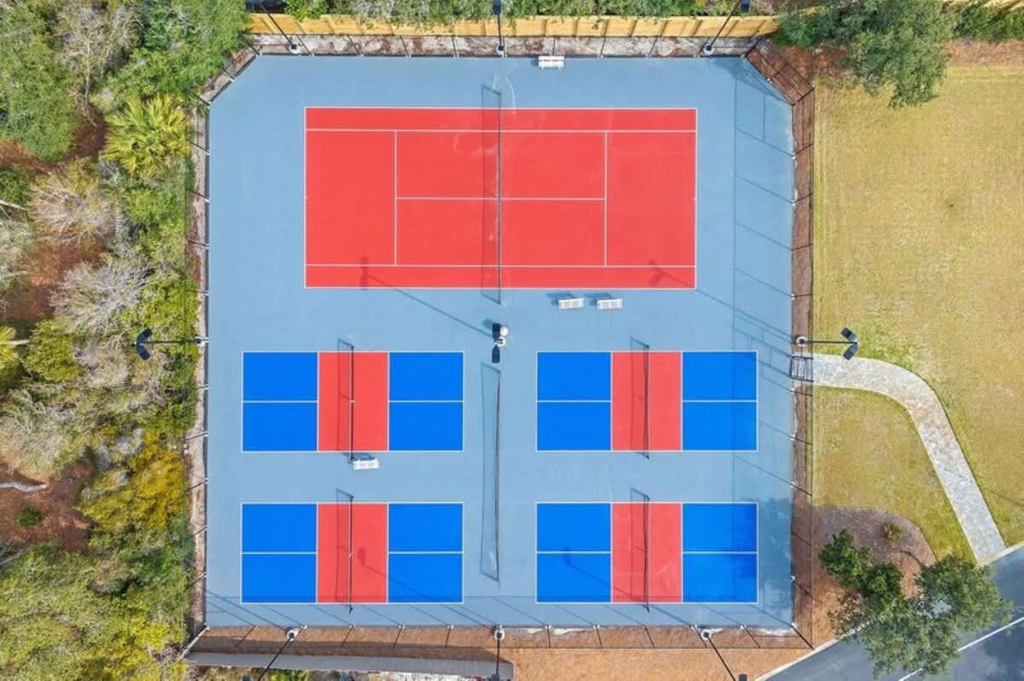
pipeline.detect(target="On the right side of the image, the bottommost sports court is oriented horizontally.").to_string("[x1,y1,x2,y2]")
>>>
[536,502,759,604]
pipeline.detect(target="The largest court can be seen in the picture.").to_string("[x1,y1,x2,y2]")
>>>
[305,106,697,289]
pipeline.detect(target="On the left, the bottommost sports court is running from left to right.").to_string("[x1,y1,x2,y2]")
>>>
[241,502,464,604]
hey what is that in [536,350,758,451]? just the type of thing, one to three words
sports court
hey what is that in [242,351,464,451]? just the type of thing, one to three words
sports court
